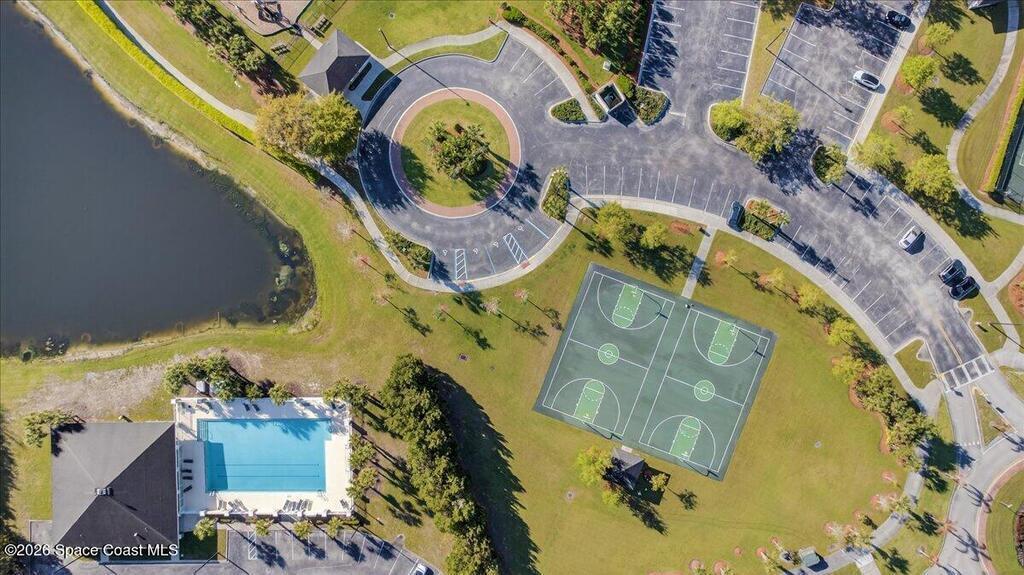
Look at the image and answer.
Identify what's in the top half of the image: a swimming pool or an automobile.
automobile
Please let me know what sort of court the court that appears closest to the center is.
basketball court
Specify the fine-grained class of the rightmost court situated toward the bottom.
basketball court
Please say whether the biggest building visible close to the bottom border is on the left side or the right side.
left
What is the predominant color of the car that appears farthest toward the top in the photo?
black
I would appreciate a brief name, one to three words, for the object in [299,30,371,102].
building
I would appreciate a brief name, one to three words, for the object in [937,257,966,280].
car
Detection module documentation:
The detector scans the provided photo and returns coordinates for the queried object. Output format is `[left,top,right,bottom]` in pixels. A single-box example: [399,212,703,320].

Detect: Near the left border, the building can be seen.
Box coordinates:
[51,421,185,548]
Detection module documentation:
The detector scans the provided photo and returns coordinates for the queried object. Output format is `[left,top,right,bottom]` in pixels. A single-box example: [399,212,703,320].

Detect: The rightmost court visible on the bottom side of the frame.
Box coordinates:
[629,299,777,481]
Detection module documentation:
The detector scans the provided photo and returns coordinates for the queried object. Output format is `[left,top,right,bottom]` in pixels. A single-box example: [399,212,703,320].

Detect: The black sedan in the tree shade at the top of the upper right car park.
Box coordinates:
[884,10,912,30]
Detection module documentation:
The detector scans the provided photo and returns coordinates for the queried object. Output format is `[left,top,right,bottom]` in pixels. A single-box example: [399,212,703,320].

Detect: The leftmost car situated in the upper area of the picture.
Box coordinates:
[728,201,745,229]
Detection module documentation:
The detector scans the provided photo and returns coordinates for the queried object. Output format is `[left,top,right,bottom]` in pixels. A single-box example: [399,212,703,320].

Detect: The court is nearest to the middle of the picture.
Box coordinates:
[535,263,684,445]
